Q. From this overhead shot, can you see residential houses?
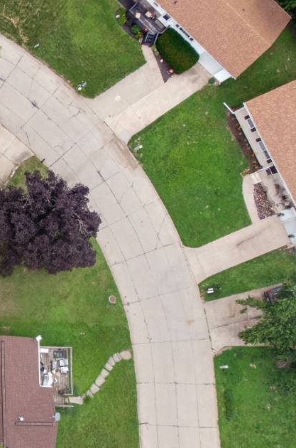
Yes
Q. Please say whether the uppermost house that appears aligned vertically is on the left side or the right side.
right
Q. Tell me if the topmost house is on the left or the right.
right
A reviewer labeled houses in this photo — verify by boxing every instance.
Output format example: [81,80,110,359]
[0,333,60,448]
[129,0,296,84]
[223,78,296,258]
